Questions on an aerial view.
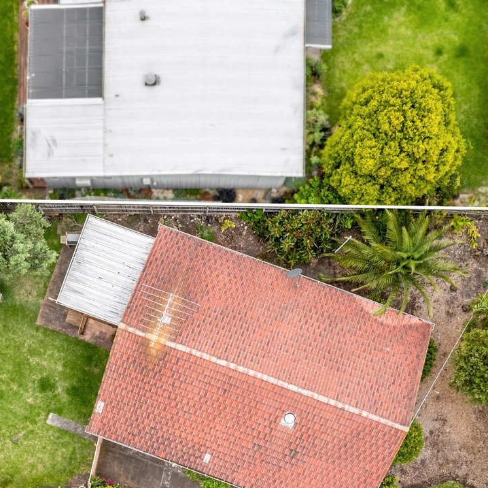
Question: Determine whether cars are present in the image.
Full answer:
No, I can't see a single car in this photo.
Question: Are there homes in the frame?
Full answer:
Yes, there's a home down there.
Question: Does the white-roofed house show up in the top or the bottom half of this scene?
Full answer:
The white-roofed house sits in the top half of the picture.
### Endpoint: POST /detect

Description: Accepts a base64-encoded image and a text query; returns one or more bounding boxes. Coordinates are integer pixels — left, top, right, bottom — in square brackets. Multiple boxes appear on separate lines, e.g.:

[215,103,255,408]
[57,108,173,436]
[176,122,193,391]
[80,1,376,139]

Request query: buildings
[85,222,435,488]
[21,0,308,192]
